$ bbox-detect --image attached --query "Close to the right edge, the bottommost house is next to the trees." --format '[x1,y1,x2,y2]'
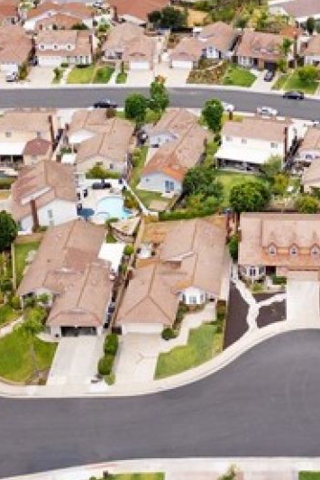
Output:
[236,204,320,283]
